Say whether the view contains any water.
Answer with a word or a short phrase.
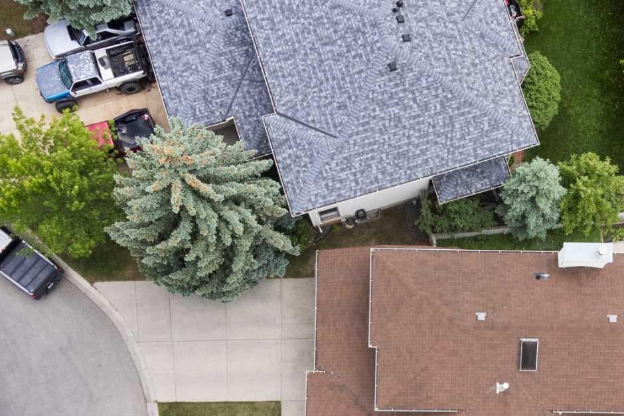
No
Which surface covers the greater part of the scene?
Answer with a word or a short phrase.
buildings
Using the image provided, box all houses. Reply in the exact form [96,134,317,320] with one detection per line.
[134,0,540,243]
[303,242,624,416]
